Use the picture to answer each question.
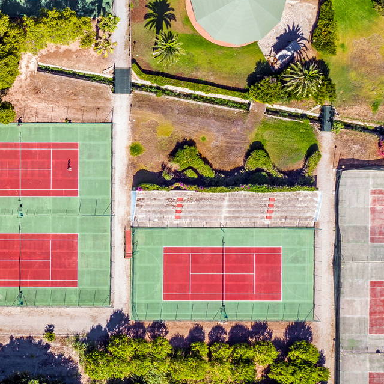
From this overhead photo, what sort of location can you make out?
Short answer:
sports ground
